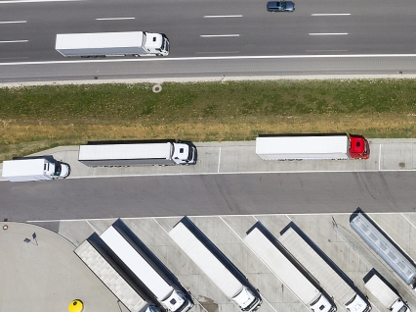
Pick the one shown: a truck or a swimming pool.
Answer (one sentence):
It is a truck that can be seen here.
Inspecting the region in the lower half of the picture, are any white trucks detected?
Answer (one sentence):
Yes, a white truck can be seen in the lower half of the picture.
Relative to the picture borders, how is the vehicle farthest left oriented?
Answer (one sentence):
In this picture, the vehicle farthest left lies from side to side.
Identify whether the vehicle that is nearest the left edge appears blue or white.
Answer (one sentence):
The color of the vehicle that is nearest the left edge is white.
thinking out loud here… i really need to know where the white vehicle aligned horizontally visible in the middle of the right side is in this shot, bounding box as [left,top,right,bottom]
[256,136,370,160]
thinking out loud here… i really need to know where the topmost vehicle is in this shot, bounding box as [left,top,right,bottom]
[266,0,297,14]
